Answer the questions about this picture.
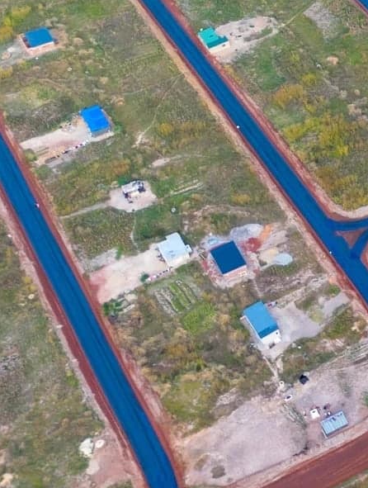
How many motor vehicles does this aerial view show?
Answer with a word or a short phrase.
0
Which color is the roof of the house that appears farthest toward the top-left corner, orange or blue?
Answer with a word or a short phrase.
blue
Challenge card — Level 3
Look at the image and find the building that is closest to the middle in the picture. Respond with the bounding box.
[160,231,201,268]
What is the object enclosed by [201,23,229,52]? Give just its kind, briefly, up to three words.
house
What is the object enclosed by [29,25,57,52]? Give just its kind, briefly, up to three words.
house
